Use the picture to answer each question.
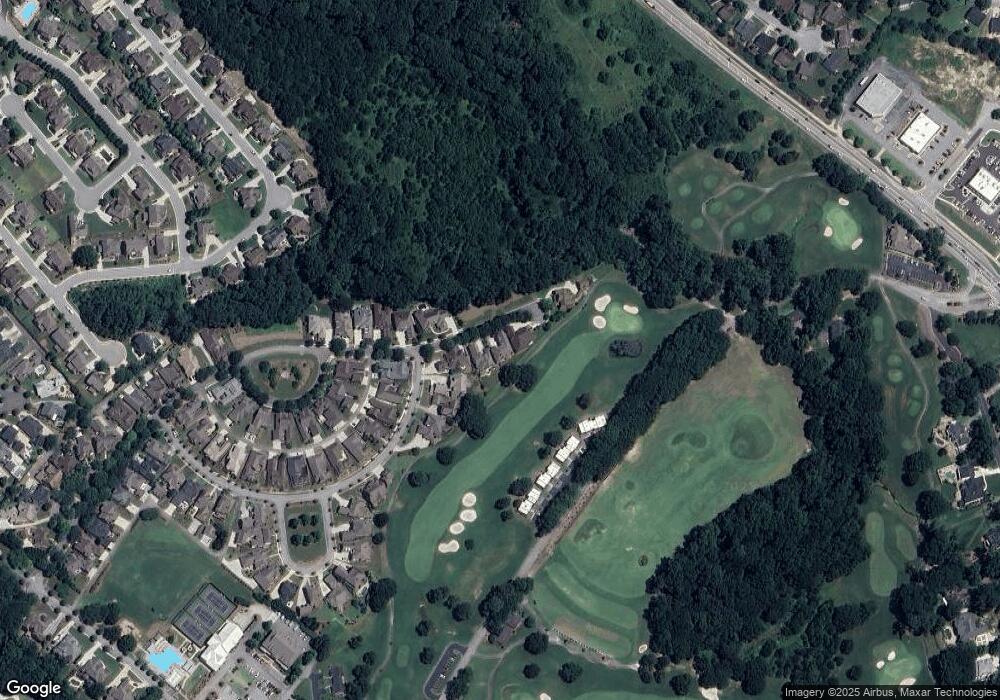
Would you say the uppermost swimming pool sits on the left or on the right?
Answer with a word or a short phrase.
left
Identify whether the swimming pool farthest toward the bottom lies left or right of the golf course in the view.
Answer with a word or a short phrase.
to the left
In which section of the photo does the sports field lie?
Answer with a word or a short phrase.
bottom left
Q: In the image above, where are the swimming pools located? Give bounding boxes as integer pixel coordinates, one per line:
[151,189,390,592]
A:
[139,635,190,689]
[96,145,116,165]
[937,466,957,482]
[14,0,40,26]
[944,624,956,643]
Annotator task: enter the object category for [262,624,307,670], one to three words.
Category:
building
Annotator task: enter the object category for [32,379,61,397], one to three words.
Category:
house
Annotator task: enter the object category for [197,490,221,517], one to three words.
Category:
house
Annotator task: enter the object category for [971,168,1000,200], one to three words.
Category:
building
